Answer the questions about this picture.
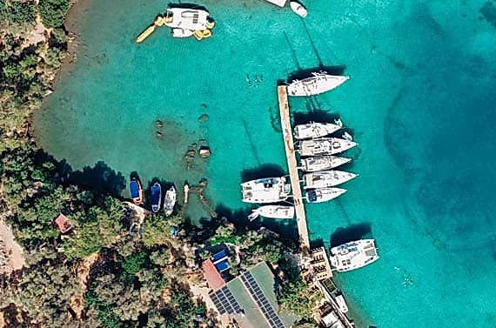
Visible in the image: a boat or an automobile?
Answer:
boat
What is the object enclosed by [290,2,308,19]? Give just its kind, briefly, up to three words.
boat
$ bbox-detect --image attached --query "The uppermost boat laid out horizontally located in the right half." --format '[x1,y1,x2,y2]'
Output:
[286,73,349,98]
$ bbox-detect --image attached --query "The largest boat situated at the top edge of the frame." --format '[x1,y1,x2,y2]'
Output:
[164,8,210,29]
